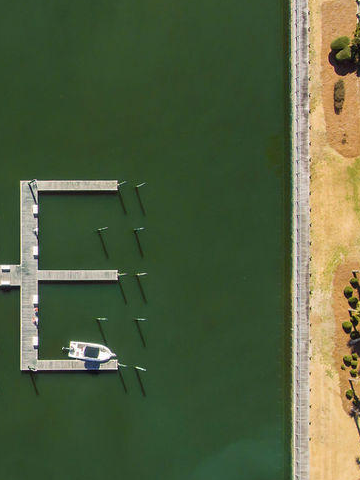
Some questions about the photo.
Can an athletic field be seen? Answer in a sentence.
No, the scene contains no athletic field.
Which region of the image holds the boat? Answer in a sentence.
The boat sits in the bottom left section of the image.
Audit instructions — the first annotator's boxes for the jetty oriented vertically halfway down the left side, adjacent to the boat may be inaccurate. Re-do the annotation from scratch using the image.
[20,180,38,370]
